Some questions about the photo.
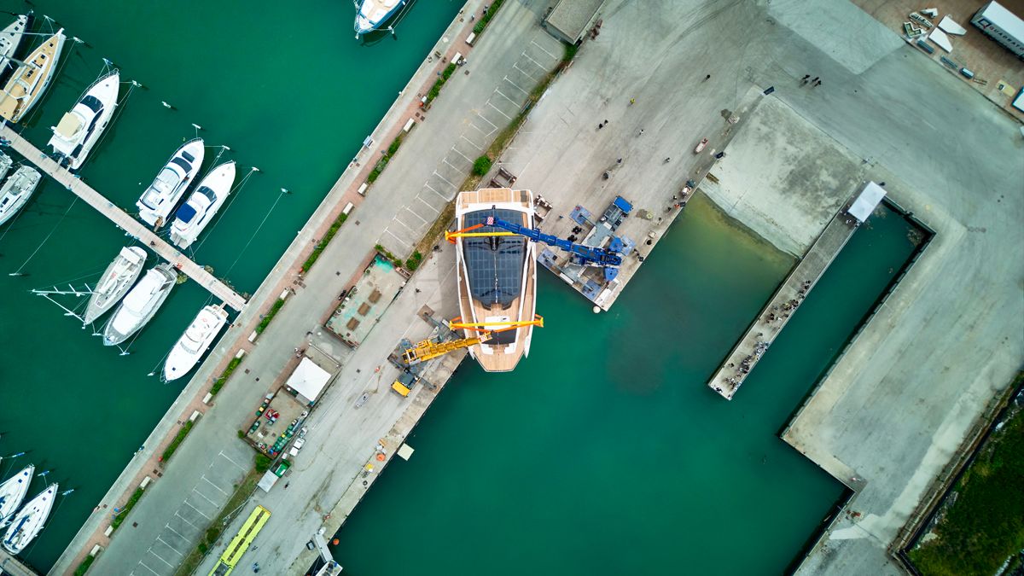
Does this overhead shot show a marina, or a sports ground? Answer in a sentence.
This image shows a marina.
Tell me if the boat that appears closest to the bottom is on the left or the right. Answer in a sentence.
The boat that appears closest to the bottom is on the left side of the image.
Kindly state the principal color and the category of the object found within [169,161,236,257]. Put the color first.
white boat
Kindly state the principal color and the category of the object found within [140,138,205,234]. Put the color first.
white boat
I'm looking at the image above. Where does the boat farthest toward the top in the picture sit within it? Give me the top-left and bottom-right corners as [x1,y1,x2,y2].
[358,0,401,34]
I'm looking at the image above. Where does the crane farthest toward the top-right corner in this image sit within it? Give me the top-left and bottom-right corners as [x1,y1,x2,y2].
[479,189,641,292]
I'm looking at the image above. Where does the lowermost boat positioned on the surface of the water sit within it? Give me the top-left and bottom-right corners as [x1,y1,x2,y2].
[316,555,345,576]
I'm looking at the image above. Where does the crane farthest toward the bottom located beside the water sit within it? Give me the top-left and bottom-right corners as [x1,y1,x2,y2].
[384,308,496,404]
